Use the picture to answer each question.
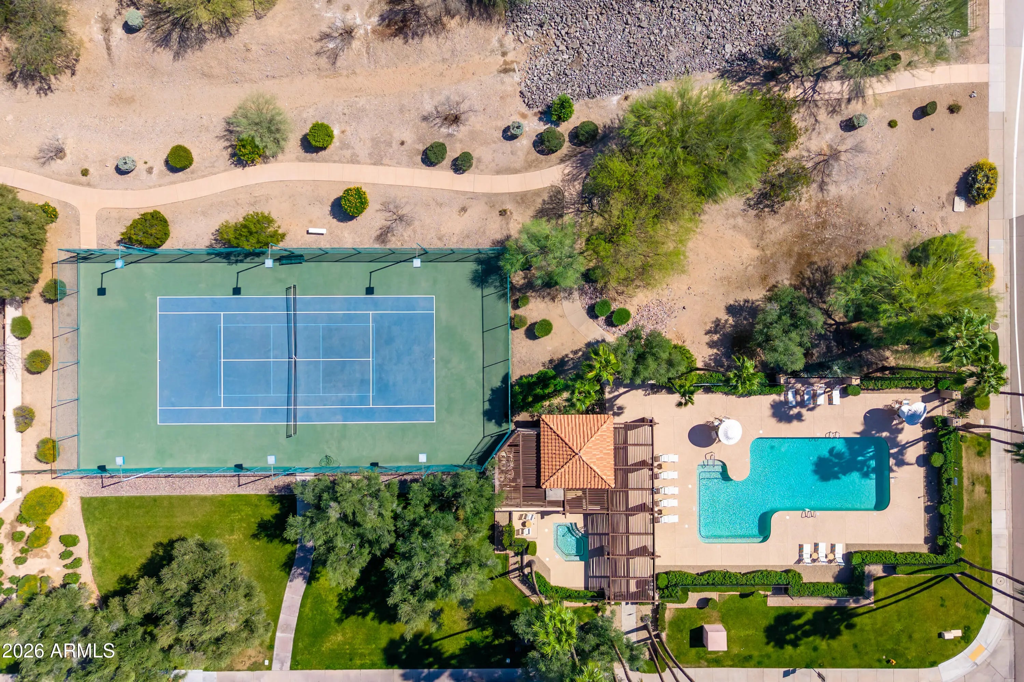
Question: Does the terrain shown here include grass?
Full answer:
Yes, there's grass in this view.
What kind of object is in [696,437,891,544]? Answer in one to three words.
swimming pool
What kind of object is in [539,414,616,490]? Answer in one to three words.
building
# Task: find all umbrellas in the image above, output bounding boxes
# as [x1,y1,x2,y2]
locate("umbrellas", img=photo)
[716,417,743,446]
[901,400,928,428]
